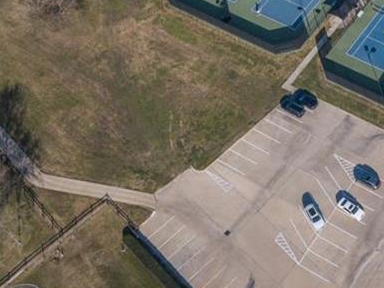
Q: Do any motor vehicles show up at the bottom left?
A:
No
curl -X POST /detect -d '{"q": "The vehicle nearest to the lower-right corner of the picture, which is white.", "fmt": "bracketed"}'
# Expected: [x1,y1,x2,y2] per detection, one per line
[336,196,363,218]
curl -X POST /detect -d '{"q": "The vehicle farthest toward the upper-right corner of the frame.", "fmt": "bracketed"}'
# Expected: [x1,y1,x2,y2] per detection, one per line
[293,87,318,107]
